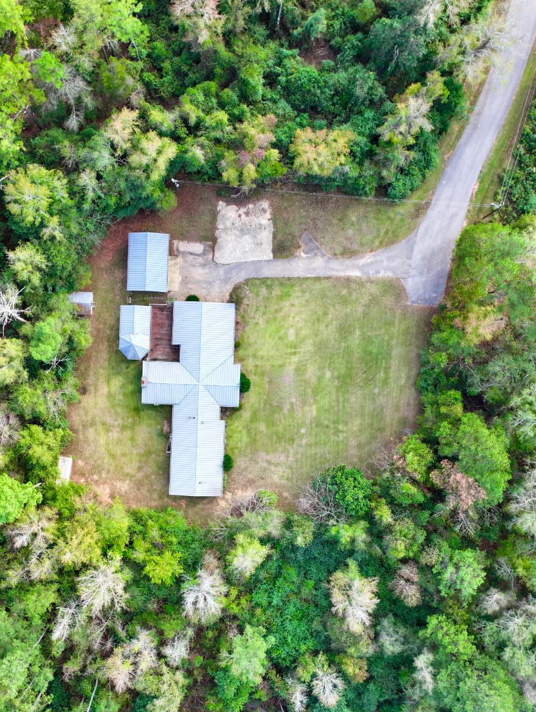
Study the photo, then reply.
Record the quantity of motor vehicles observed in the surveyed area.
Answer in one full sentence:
No motor vehicles are visible.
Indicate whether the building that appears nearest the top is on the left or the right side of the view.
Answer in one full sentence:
It is on the left.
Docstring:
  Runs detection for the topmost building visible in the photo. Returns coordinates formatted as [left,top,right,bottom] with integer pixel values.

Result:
[126,232,169,292]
